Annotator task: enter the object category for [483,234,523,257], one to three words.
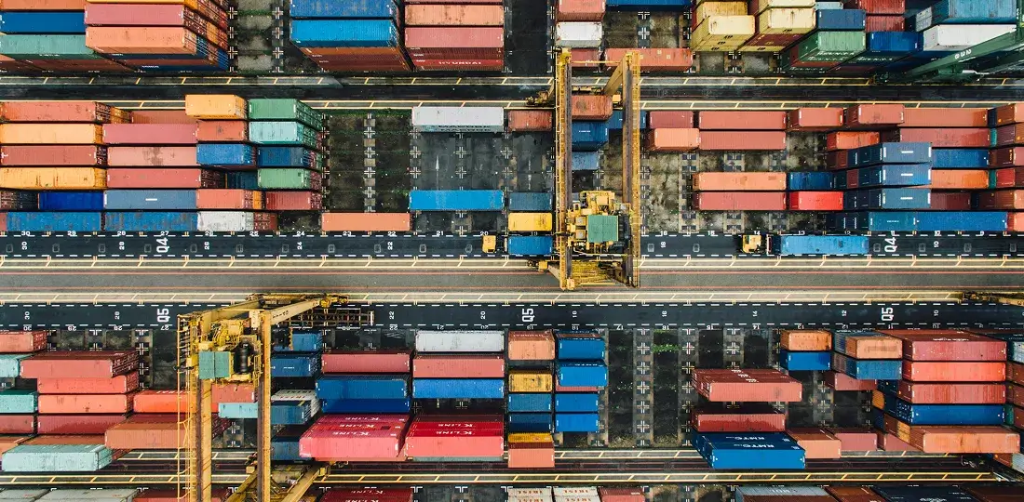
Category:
truck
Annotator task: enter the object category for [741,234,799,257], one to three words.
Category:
truck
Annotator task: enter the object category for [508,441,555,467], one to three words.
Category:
shipping container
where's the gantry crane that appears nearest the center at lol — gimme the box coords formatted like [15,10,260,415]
[520,49,643,289]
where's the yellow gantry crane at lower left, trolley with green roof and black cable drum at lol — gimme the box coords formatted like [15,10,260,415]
[175,294,340,502]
